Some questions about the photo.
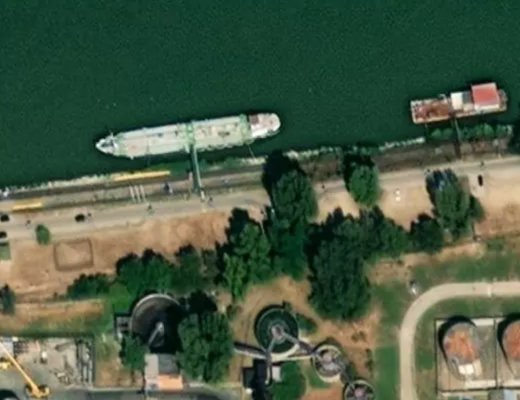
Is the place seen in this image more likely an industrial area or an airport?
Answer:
industrial area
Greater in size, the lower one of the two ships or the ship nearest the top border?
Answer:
the lower one of the two ships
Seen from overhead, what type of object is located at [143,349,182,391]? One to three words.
building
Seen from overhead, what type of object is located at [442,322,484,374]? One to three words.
storage tank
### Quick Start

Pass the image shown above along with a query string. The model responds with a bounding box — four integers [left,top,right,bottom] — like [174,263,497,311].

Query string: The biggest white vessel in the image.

[95,114,281,158]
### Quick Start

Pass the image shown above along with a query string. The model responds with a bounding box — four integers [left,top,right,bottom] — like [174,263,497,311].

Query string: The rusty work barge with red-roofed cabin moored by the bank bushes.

[411,89,506,123]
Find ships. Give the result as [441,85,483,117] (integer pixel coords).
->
[95,114,281,158]
[411,89,506,123]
